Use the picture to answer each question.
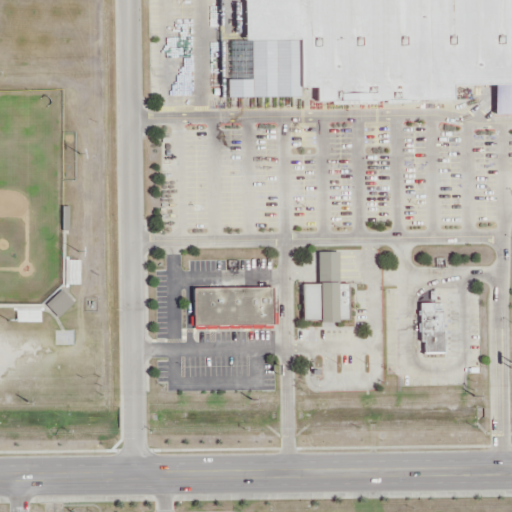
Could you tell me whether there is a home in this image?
Yes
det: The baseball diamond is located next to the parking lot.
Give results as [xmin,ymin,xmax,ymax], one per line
[0,90,62,303]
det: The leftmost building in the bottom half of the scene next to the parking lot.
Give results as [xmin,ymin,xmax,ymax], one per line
[191,286,278,332]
